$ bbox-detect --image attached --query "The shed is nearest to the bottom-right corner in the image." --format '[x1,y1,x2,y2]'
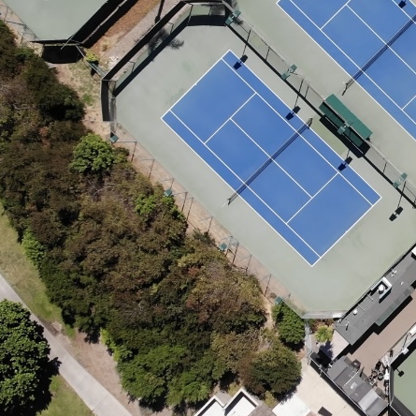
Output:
[358,384,389,416]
